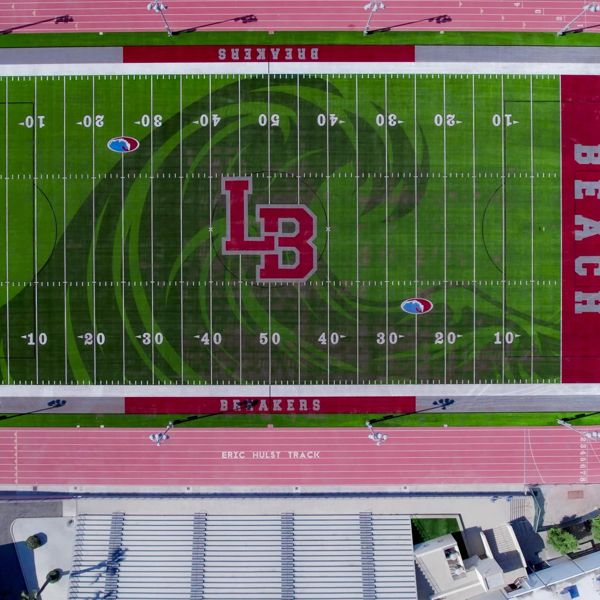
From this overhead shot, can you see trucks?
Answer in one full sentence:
No, I can see no truck in this picture.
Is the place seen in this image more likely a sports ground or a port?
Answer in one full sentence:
This looks like a sports ground.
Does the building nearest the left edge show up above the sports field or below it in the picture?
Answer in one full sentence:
Looking at the scene, the building nearest the left edge is located below the sports field.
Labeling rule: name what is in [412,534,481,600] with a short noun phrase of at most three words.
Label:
building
